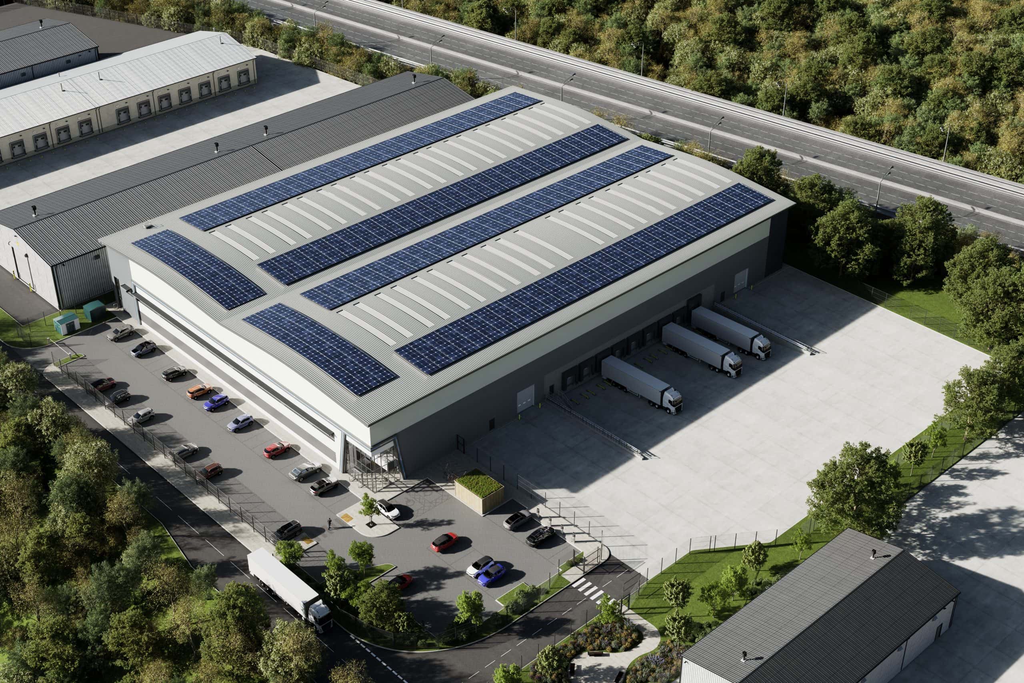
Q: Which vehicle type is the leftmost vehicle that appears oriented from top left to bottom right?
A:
truck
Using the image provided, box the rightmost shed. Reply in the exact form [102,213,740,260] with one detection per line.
[679,527,963,683]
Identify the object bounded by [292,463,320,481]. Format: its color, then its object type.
gray car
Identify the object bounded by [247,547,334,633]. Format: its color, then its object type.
white truck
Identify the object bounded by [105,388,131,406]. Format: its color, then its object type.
black car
